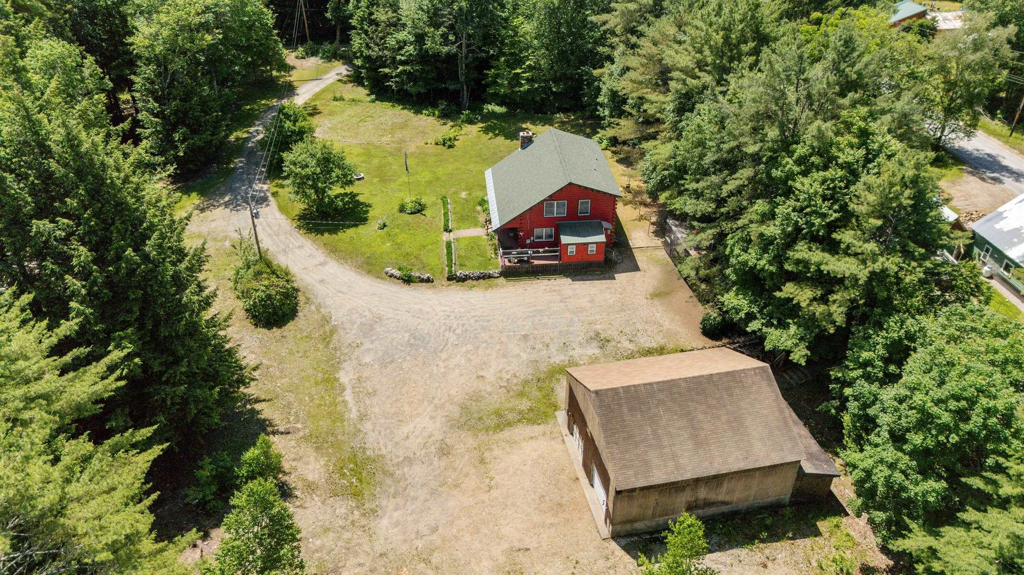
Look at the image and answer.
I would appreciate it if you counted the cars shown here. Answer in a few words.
none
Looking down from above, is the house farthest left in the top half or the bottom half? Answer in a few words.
top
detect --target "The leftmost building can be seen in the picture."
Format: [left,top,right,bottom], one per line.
[484,128,621,274]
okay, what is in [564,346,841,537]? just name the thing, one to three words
barn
